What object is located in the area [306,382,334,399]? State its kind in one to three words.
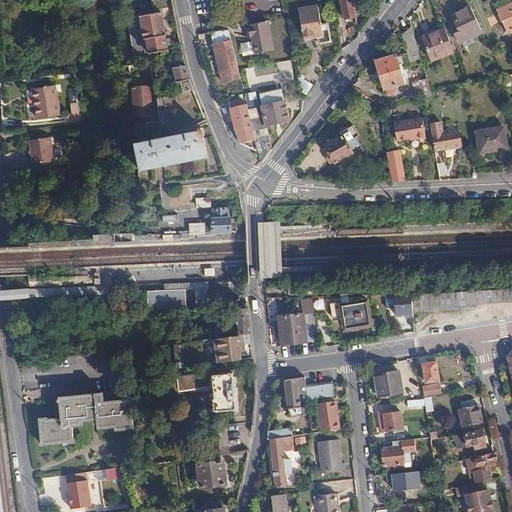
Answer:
building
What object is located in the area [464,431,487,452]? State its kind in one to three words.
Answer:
house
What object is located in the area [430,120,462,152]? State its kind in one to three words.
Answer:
house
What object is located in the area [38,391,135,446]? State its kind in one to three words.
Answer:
building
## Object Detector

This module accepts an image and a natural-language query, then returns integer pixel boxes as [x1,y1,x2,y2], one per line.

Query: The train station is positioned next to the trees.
[0,219,512,282]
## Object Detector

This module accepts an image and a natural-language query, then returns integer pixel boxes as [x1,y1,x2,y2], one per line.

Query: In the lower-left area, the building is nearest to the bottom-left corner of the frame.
[68,472,92,508]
